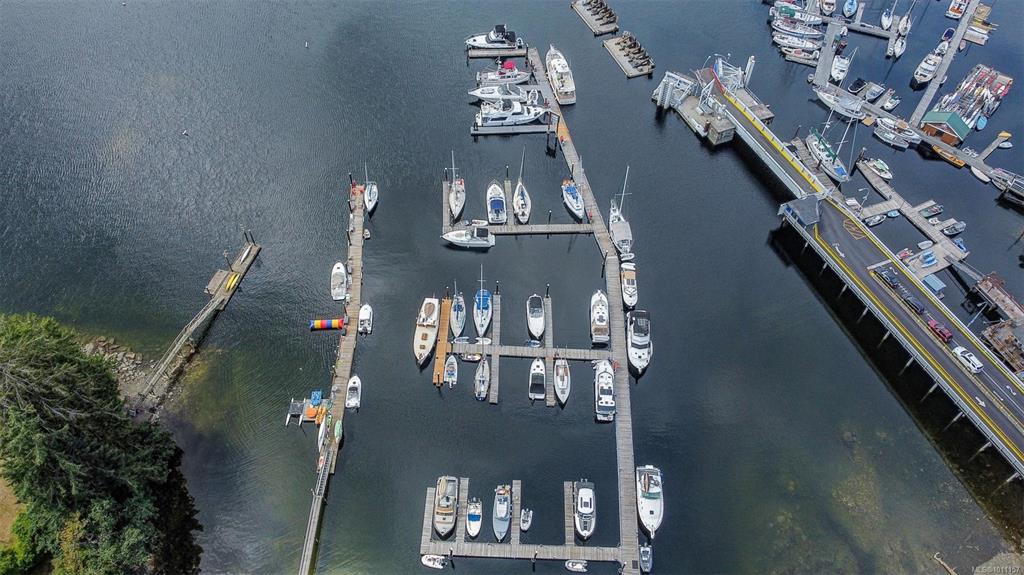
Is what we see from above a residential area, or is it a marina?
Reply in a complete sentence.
The picture captures a marina.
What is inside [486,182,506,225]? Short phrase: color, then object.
white boat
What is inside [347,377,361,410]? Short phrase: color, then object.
white boat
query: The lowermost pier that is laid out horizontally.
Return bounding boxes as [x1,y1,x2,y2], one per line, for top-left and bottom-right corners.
[421,543,621,562]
